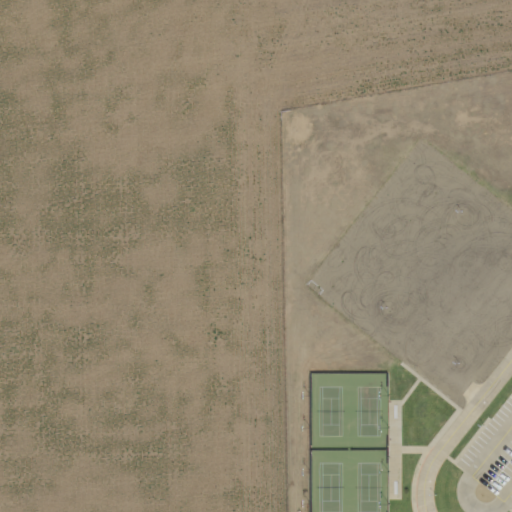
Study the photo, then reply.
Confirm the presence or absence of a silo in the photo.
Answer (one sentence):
No, the photo shows no silo.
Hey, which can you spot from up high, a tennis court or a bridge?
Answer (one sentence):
The image shows a tennis court.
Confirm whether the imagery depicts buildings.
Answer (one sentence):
No, no building can be seen from above.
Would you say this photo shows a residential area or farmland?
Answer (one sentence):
The picture captures farmland.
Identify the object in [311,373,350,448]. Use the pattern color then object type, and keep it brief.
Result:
green tennis court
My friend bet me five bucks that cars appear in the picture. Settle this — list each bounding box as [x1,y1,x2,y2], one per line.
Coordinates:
[478,478,488,487]
[482,474,492,482]
[503,446,512,456]
[500,472,510,482]
[488,484,500,496]
[495,461,504,469]
[498,456,508,464]
[490,464,500,473]
[492,480,502,490]
[487,470,497,478]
